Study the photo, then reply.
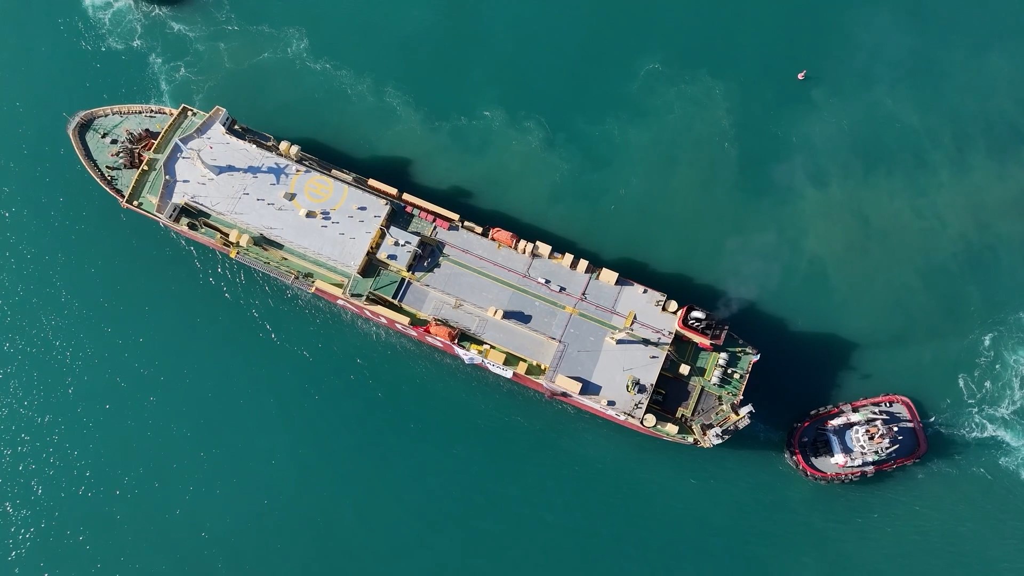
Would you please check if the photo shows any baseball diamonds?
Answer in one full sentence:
No, no baseball diamond can be seen from above.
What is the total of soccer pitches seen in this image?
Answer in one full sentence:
No soccer pitches are visible.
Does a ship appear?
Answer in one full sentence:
Yes, the image includes a ship.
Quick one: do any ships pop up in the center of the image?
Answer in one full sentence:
Yes, a ship is visible in the center of the image.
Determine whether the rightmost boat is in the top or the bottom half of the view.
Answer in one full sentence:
The bottom half of the photo is where the rightmost boat is.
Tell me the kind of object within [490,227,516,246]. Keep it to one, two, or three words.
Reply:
boat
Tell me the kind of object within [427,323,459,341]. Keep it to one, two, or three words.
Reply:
boat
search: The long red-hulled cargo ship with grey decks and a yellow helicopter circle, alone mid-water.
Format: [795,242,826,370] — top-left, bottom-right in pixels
[56,102,756,448]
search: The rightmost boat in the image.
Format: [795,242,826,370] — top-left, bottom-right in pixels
[787,391,928,481]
